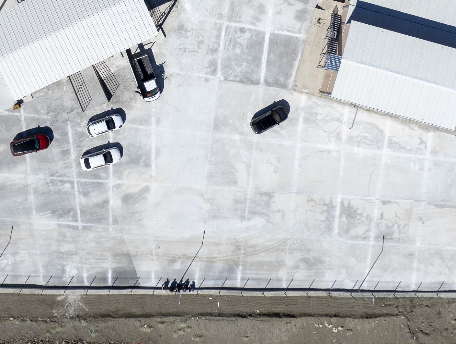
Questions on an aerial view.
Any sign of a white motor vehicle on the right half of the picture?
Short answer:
No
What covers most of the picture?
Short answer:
paved ground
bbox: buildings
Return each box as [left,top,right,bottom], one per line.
[319,20,456,132]
[0,0,158,101]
